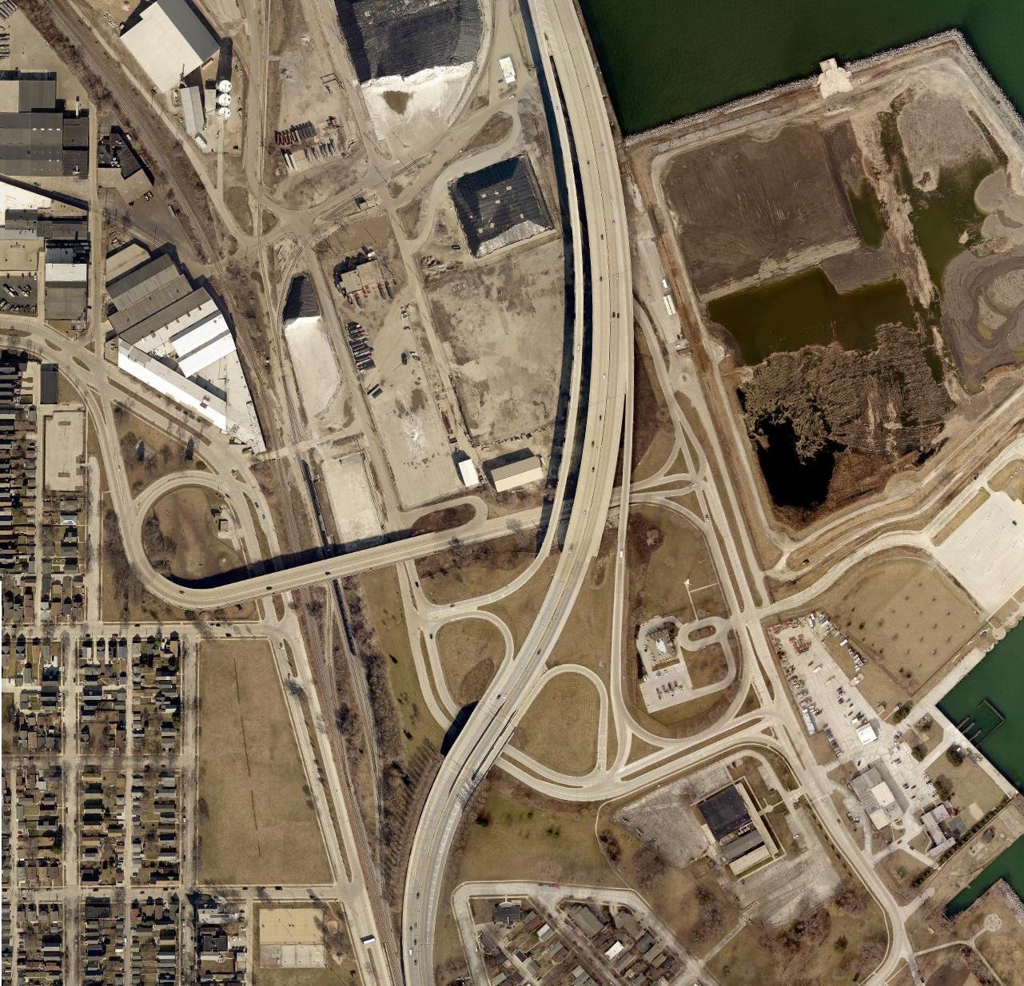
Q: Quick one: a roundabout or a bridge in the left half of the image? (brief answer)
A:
bridge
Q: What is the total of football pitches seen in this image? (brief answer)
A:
0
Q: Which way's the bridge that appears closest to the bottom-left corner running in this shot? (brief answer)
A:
from left to right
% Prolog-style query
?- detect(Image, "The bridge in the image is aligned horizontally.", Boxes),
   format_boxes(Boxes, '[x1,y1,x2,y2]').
[125,521,450,608]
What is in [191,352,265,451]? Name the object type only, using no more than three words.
shed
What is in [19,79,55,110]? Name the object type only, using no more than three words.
building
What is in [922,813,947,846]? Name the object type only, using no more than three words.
house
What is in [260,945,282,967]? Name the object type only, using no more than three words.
tennis court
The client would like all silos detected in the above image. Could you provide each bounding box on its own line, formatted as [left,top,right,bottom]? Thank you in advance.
[216,92,231,106]
[217,78,231,93]
[216,105,230,120]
